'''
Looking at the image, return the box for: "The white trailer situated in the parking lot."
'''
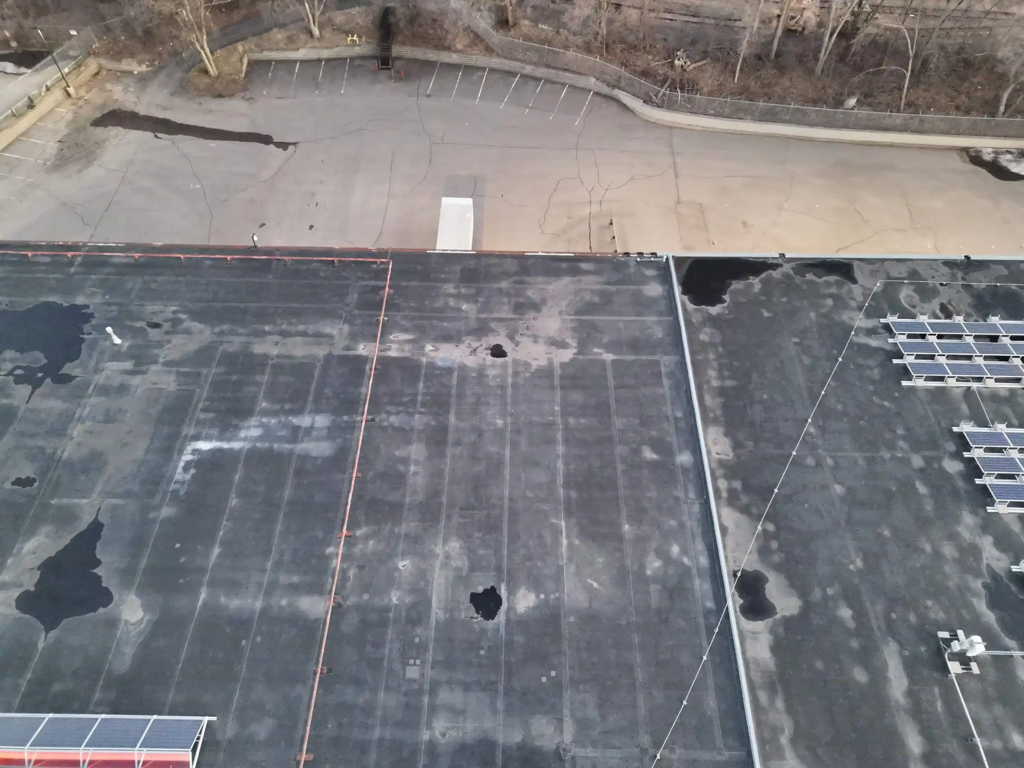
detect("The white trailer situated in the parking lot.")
[435,198,474,250]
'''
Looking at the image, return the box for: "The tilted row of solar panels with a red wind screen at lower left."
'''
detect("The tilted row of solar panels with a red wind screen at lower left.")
[0,713,217,768]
